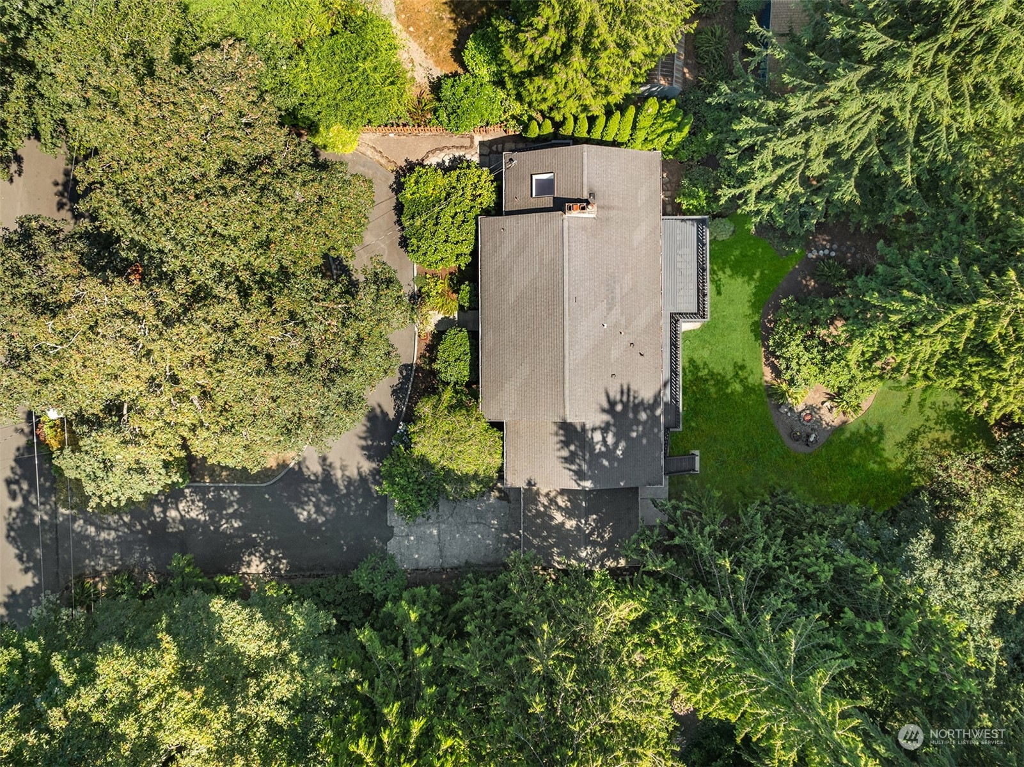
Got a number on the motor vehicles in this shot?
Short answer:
0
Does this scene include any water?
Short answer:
No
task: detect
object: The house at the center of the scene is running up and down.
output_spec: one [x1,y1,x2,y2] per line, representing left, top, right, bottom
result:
[477,141,665,574]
